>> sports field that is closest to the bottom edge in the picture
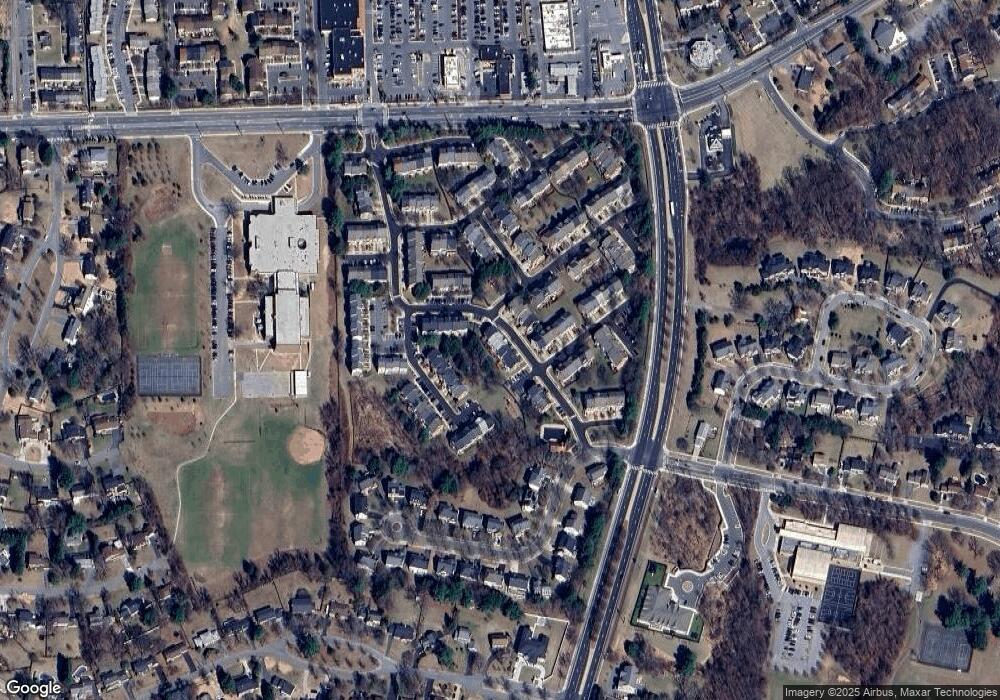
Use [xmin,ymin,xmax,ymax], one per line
[180,411,330,574]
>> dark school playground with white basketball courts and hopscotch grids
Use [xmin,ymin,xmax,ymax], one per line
[818,564,861,625]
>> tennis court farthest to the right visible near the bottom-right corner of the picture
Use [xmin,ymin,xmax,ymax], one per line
[920,624,973,672]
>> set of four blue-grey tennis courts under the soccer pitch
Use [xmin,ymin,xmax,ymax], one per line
[138,356,200,396]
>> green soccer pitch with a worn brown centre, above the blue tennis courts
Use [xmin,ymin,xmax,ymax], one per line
[130,221,202,357]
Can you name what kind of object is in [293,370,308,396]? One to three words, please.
shed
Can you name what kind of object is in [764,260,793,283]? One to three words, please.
house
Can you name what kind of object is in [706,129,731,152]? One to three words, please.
building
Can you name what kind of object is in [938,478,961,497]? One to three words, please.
house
